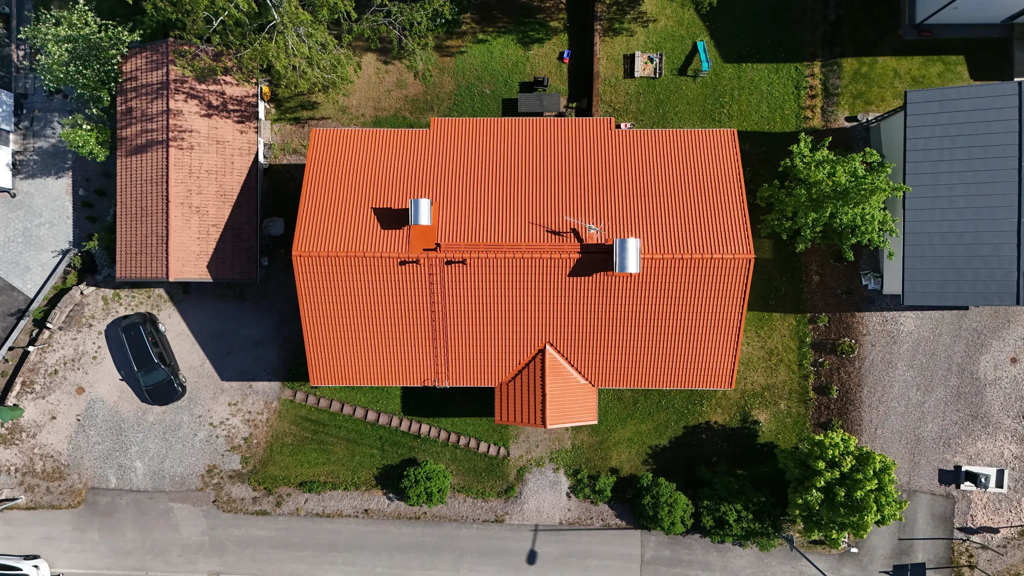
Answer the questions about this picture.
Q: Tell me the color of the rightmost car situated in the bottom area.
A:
black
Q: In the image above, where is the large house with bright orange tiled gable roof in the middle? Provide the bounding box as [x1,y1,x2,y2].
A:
[290,113,758,429]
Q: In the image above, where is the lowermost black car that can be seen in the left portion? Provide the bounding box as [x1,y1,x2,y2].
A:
[117,311,188,406]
